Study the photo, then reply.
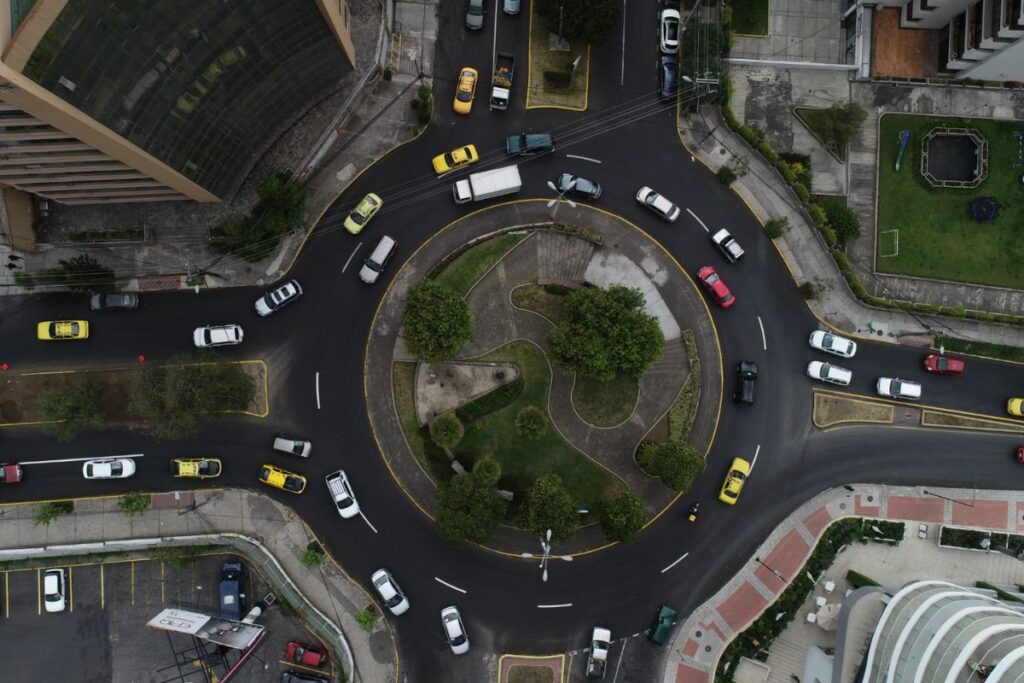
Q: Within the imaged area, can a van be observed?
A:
Yes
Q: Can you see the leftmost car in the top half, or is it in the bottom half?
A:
bottom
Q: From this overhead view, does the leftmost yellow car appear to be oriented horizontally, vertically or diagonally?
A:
horizontally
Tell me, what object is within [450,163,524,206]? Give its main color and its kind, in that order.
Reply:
white truck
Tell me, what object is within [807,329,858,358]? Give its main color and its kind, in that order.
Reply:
white car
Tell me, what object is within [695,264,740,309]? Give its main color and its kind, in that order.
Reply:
red car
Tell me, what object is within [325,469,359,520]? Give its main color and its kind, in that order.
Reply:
white car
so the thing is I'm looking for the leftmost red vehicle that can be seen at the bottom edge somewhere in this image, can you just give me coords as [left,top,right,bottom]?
[285,639,331,670]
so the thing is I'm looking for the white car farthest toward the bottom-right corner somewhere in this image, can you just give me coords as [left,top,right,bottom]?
[876,375,923,399]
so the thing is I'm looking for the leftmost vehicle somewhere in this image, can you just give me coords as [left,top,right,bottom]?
[0,462,23,486]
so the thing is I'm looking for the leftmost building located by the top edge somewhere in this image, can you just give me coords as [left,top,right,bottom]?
[0,0,357,203]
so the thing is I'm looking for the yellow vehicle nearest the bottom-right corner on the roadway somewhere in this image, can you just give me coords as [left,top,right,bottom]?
[1004,396,1024,418]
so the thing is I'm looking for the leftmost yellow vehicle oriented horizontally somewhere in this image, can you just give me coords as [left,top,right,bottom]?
[40,318,90,341]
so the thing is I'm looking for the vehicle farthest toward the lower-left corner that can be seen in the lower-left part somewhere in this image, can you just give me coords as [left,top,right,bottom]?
[42,568,69,611]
